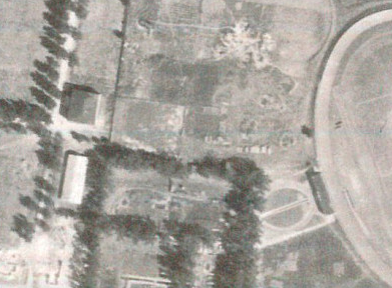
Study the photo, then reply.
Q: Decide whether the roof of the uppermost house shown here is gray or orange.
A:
gray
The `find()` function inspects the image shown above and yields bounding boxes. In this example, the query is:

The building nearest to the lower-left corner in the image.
[61,155,89,204]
